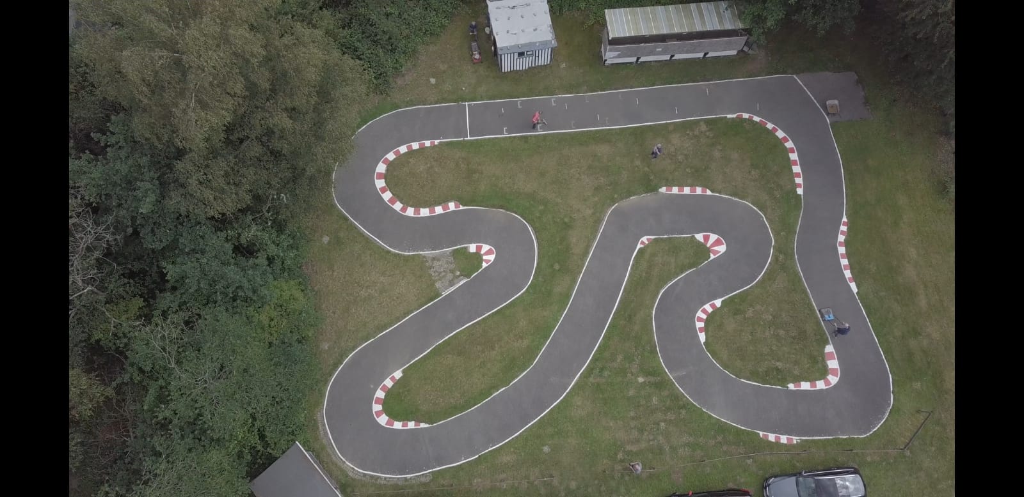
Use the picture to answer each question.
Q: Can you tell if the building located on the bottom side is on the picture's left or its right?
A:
left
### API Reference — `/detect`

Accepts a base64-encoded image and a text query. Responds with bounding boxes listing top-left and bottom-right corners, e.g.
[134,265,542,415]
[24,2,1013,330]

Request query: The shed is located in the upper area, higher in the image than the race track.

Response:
[489,0,559,71]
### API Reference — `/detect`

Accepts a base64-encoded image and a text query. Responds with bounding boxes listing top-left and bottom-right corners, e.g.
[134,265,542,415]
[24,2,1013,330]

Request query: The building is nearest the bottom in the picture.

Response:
[248,441,351,497]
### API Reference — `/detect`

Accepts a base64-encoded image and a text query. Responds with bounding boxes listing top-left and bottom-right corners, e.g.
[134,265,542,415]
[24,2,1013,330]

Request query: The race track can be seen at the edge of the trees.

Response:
[323,73,894,479]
